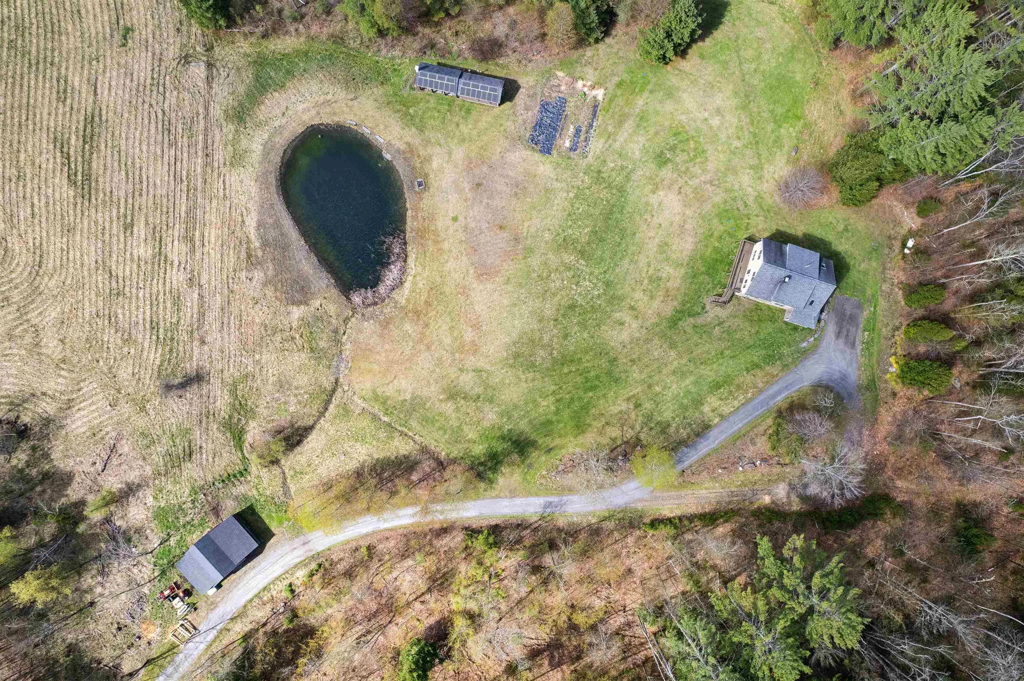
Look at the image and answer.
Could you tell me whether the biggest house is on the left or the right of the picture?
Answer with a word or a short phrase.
right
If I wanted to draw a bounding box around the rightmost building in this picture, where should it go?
[708,238,837,330]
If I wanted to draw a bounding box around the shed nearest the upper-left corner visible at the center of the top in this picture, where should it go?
[416,63,461,98]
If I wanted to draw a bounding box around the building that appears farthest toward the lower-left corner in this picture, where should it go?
[175,513,262,596]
